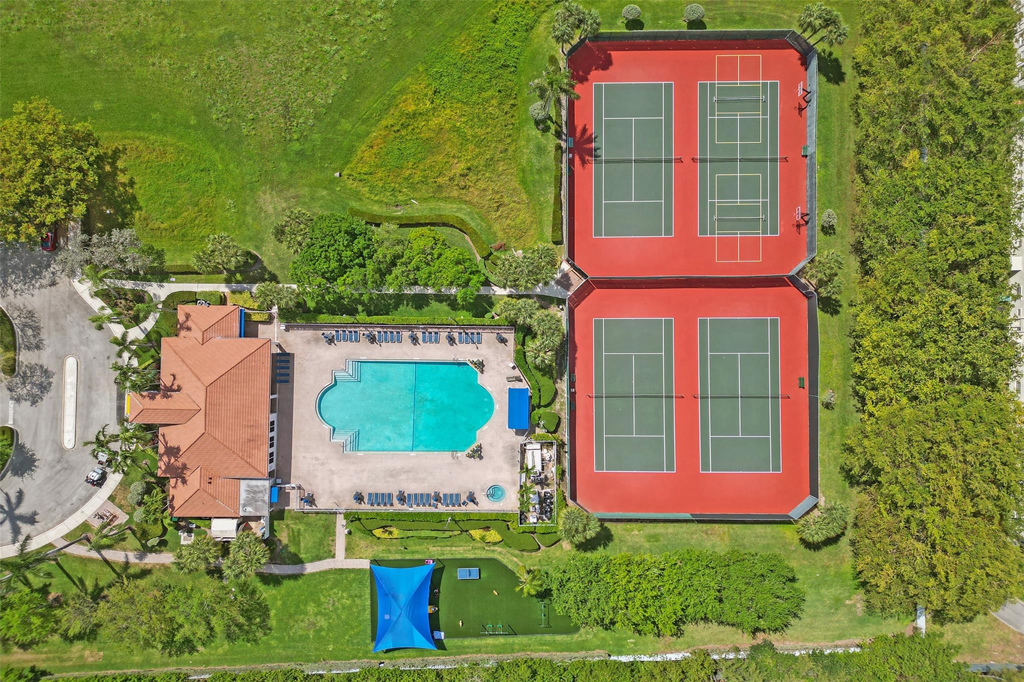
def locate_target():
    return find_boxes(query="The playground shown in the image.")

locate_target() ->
[370,558,582,644]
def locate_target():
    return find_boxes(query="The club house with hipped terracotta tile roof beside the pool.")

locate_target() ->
[128,305,279,517]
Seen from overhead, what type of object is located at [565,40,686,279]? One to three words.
tennis court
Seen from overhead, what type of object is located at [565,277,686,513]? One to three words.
tennis court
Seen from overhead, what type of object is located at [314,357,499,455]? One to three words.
swimming pool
